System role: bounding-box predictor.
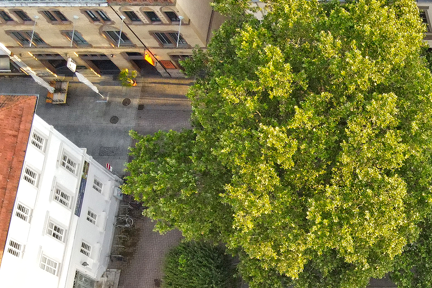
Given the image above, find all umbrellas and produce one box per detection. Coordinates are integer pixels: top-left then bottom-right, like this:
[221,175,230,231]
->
[27,69,56,94]
[77,73,107,101]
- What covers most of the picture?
trees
